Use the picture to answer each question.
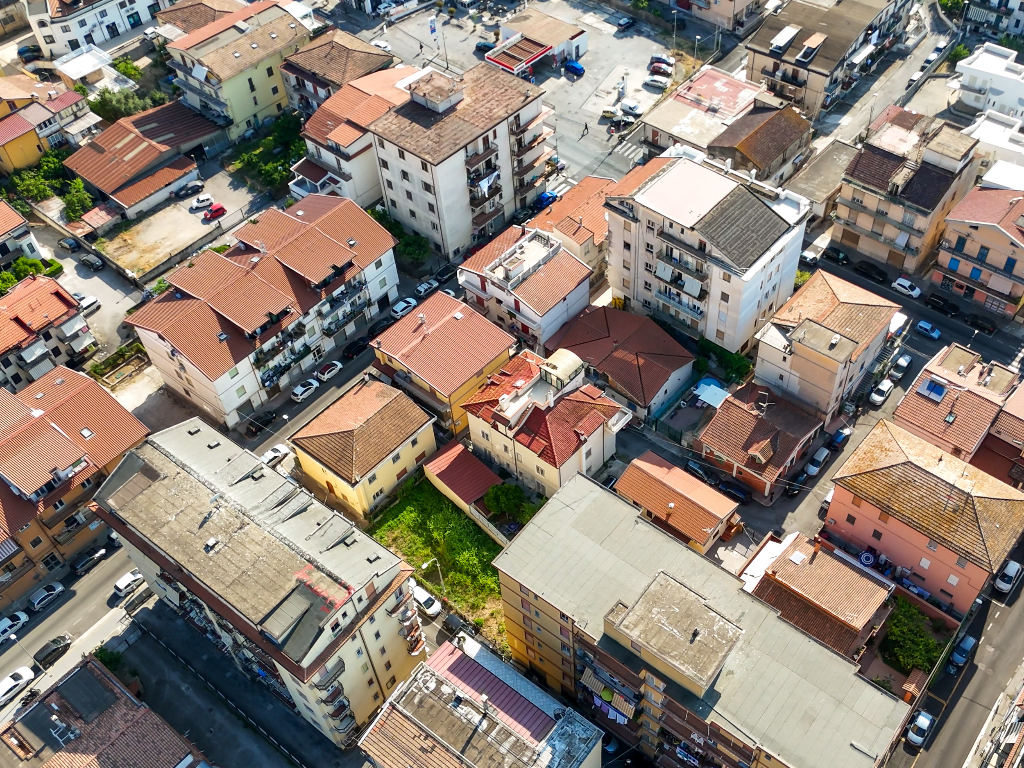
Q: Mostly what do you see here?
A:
buildings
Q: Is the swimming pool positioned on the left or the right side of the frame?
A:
right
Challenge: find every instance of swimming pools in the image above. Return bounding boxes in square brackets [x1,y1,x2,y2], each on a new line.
[689,370,729,399]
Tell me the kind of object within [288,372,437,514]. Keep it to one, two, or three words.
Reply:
house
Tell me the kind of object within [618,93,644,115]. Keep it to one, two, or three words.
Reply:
vehicle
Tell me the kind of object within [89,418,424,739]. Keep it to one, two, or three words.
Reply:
building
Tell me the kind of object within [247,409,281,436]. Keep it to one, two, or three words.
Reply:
car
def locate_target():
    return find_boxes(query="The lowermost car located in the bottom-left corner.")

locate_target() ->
[0,665,37,706]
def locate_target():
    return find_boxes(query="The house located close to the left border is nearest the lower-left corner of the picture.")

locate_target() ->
[0,643,210,768]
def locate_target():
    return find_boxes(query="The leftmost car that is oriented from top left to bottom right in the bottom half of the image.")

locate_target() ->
[274,464,306,490]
